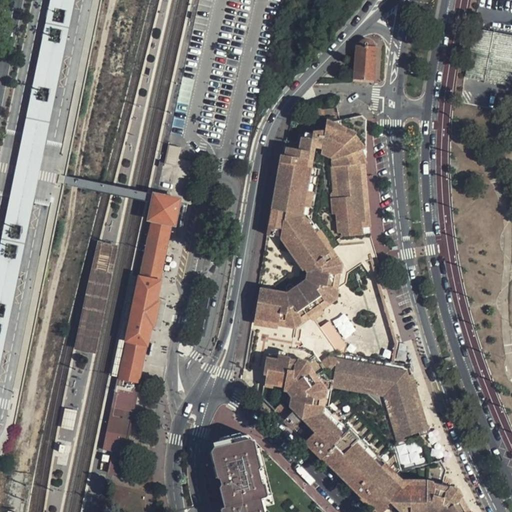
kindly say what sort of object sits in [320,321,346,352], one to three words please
building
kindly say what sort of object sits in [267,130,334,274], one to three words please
building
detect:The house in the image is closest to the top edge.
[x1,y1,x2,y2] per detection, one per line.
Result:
[352,36,377,84]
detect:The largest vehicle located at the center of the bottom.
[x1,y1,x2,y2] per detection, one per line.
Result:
[293,464,316,486]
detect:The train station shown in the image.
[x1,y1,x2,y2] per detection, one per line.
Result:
[112,192,182,384]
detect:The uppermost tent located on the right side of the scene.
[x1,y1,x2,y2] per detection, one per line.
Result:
[332,313,356,339]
